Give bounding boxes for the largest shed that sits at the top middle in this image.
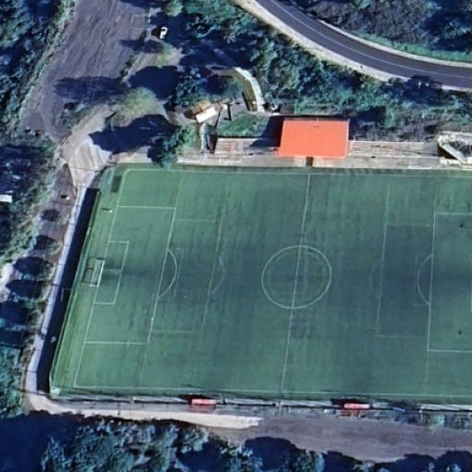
[189,101,220,126]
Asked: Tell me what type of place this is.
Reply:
sports ground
